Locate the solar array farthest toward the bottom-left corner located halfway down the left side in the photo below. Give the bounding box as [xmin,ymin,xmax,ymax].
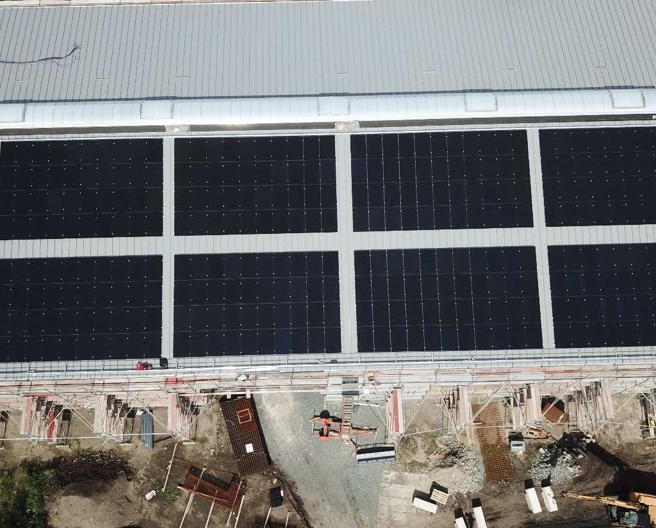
[0,255,163,362]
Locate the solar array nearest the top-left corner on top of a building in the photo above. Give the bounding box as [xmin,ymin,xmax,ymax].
[0,138,164,239]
